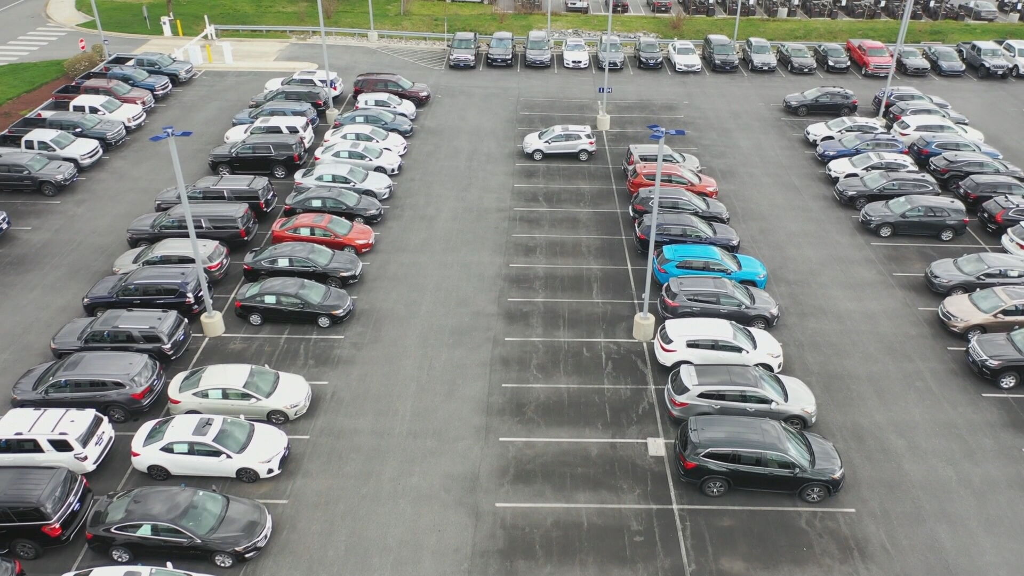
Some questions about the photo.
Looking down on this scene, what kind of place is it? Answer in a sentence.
This looks like a parking lot.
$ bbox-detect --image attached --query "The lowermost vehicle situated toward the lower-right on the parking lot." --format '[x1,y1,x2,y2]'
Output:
[672,417,848,503]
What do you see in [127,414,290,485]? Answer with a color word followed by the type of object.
white car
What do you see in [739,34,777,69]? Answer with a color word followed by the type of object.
gray car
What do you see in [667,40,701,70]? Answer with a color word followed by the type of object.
white car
